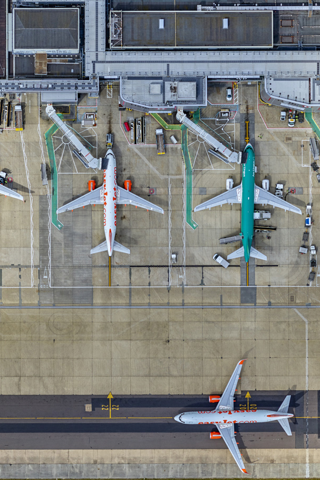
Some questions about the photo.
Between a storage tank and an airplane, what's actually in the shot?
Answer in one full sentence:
Of the two, only an airplane appears.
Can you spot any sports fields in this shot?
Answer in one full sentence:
No, no sports field is visible in the view.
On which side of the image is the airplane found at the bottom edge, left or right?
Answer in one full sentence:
The airplane found at the bottom edge sits on the right side.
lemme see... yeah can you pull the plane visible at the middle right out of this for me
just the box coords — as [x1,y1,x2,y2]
[197,143,303,262]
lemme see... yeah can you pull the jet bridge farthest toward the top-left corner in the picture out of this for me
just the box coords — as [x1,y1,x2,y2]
[44,106,107,171]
